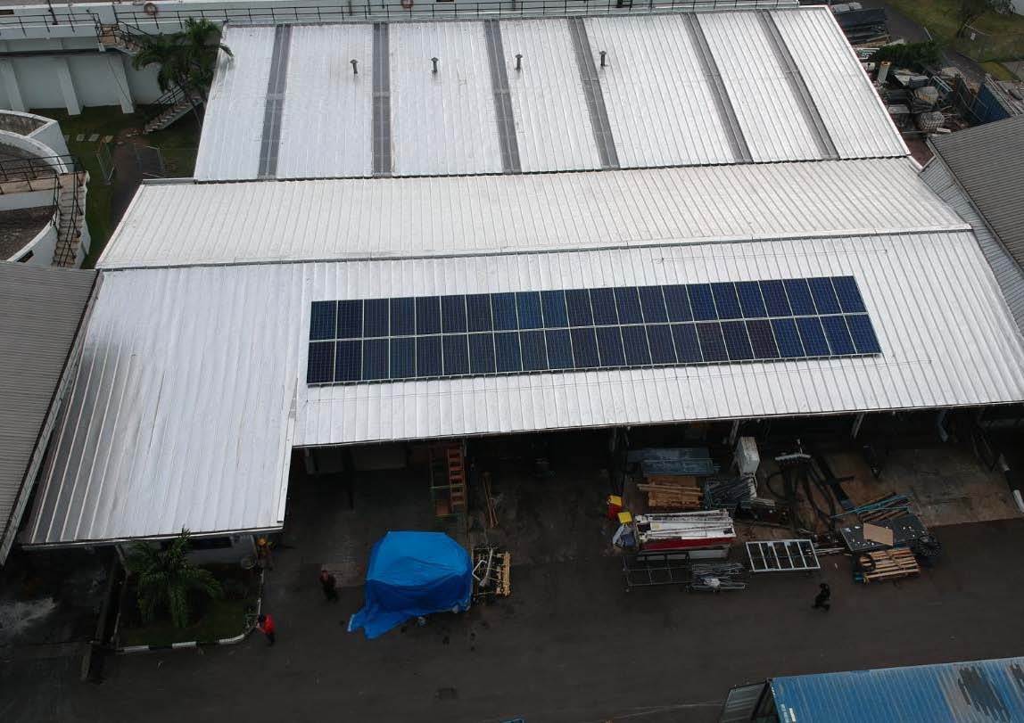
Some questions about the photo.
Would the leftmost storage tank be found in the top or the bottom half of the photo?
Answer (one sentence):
Seen from above, the leftmost storage tank lies in the top half of the view.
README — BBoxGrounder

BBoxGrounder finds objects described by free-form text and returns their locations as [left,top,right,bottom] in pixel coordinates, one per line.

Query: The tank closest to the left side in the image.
[0,108,101,271]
